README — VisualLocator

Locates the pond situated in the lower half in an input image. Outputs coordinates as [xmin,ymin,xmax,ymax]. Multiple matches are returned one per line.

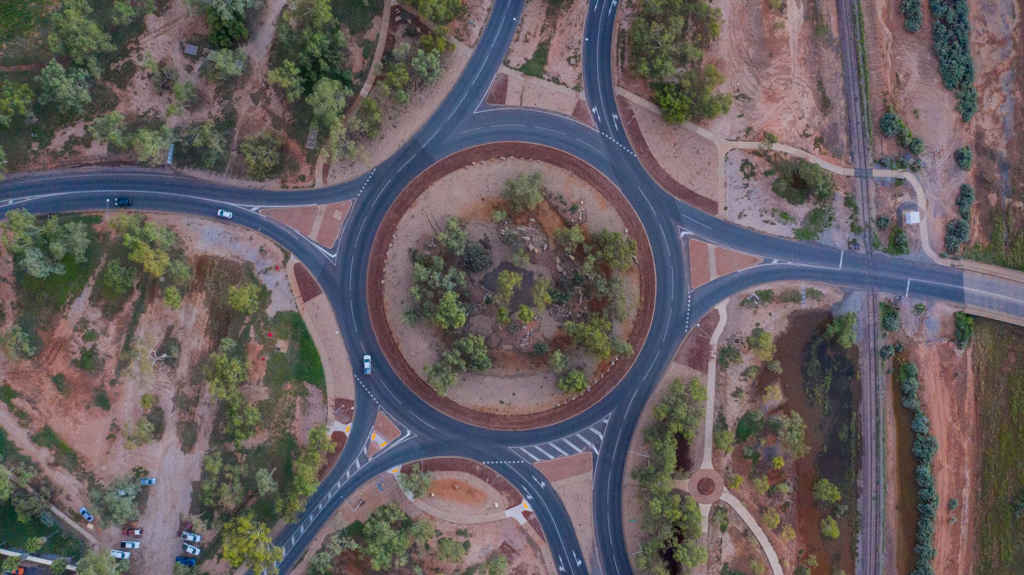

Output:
[755,306,857,575]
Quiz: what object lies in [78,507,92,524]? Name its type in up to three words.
car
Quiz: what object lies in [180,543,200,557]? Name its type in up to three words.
vehicle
